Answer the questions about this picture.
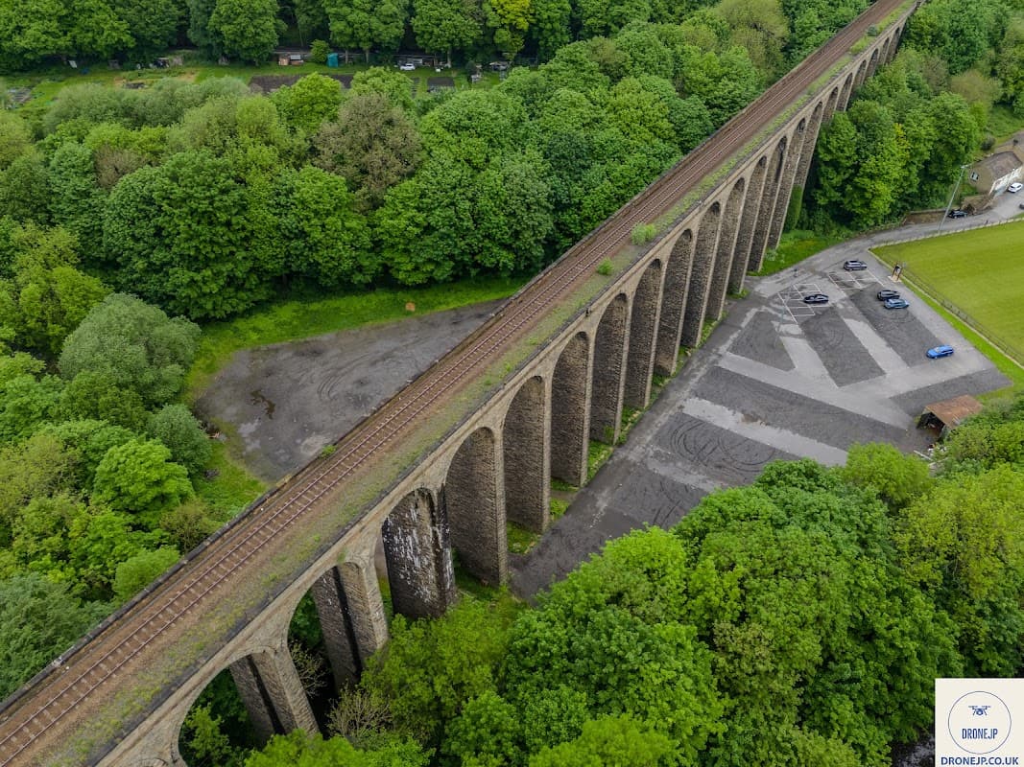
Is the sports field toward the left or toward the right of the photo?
right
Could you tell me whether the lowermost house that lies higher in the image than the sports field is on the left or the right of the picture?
right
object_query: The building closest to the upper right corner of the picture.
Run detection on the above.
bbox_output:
[962,148,1024,194]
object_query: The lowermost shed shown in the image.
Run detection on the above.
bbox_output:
[916,396,989,448]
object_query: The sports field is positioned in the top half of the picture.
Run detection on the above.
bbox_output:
[877,217,1024,373]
